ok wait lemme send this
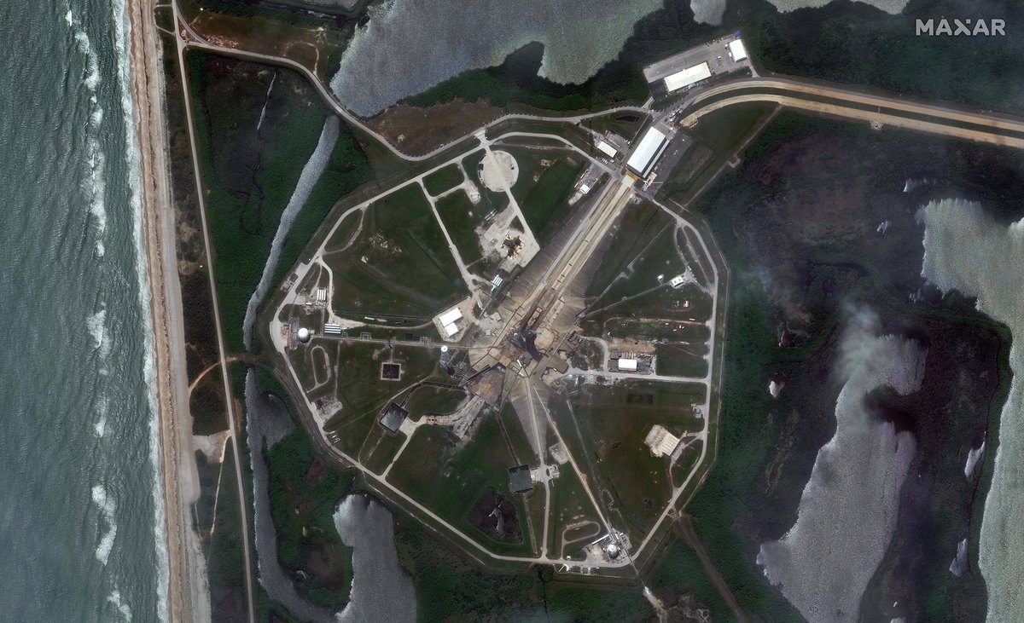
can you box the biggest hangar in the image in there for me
[627,126,669,178]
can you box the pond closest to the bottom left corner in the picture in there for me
[468,485,523,544]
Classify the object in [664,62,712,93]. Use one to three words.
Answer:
shed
